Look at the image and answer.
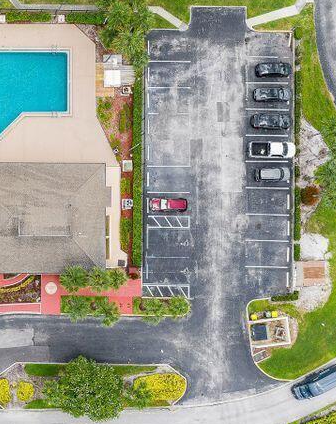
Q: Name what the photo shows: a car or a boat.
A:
car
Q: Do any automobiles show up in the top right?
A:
Yes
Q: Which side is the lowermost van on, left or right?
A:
right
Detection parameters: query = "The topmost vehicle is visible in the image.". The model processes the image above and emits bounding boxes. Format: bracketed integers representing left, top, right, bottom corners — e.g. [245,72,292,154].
[253,61,290,79]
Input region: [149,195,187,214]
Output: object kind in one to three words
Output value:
car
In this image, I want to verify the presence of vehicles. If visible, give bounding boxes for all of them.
[252,84,289,102]
[149,195,187,214]
[250,112,290,130]
[254,165,289,183]
[293,362,336,396]
[253,61,290,79]
[248,140,296,159]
